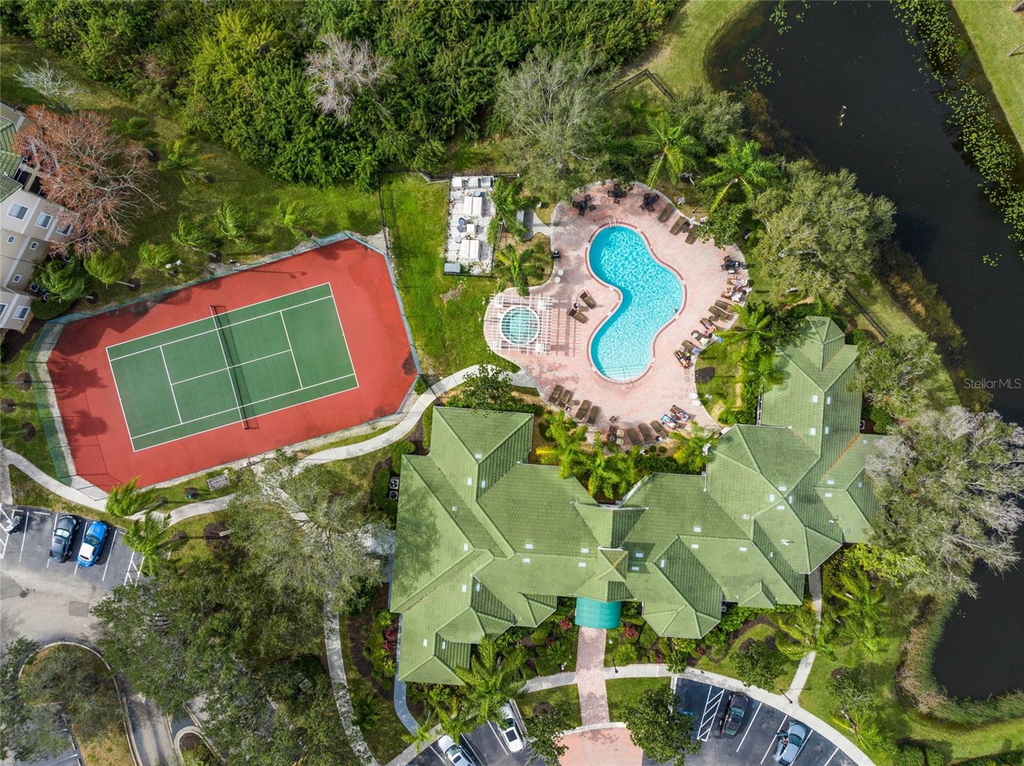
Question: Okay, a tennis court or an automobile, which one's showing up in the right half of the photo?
automobile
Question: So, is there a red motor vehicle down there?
No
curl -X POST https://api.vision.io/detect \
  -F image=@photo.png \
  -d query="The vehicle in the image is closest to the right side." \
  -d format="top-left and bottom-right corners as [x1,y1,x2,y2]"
[776,722,808,766]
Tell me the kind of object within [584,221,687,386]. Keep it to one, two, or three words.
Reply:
swimming pool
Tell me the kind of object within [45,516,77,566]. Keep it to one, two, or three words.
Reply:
car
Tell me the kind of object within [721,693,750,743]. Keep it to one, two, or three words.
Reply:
car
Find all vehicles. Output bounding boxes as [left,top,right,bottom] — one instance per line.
[721,693,750,743]
[495,705,526,754]
[776,722,808,766]
[435,735,472,766]
[73,521,106,570]
[45,516,77,566]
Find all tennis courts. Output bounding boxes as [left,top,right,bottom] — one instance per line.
[48,239,418,495]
